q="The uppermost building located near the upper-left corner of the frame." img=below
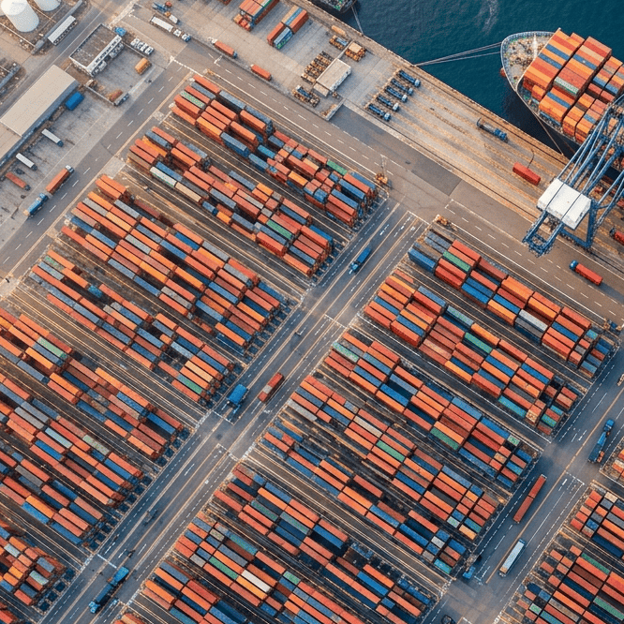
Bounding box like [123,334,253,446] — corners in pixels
[63,16,121,73]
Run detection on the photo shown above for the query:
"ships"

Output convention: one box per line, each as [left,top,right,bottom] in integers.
[310,0,365,23]
[497,34,624,186]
